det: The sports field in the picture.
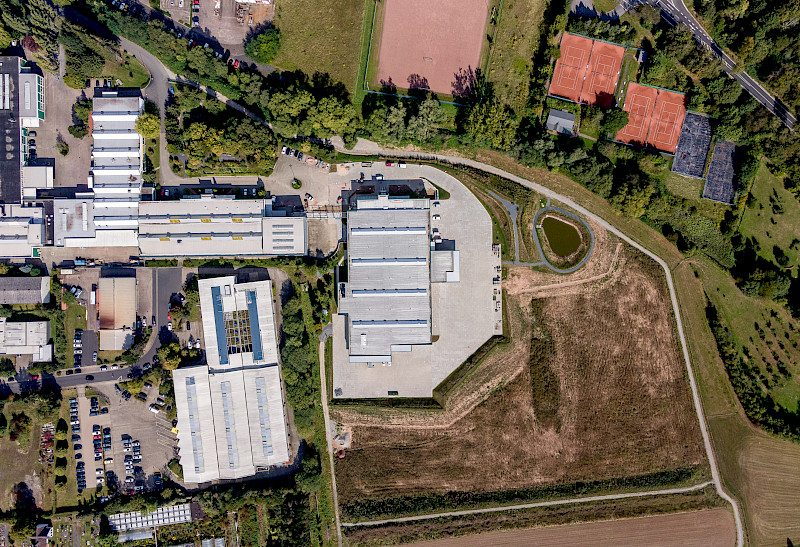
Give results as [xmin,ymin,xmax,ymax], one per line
[378,0,489,97]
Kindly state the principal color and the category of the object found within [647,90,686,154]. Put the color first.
red tennis court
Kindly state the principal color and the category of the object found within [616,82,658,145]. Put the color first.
red tennis court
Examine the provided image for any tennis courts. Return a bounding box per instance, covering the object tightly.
[549,34,594,102]
[616,82,658,145]
[647,90,686,154]
[673,112,709,177]
[580,41,626,108]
